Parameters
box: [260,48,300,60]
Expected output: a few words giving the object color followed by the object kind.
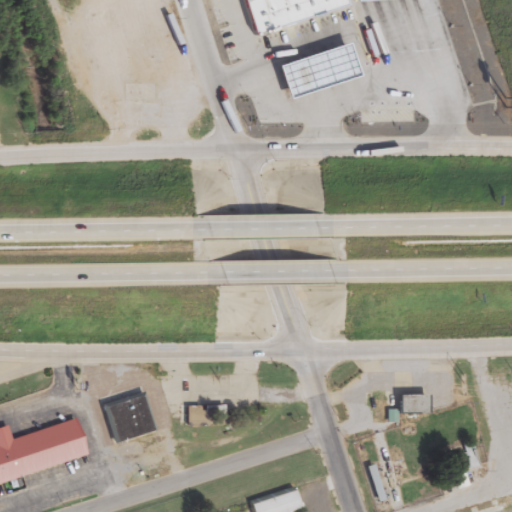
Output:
white vehicle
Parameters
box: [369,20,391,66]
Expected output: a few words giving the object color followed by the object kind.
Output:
white truck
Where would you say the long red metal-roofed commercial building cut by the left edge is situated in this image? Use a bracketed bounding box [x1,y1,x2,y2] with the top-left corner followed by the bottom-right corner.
[0,418,88,482]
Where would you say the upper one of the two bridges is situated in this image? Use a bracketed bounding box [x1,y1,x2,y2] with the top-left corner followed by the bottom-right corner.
[198,214,327,240]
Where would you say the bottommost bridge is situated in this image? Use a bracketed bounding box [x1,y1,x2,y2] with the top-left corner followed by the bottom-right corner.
[210,260,344,284]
